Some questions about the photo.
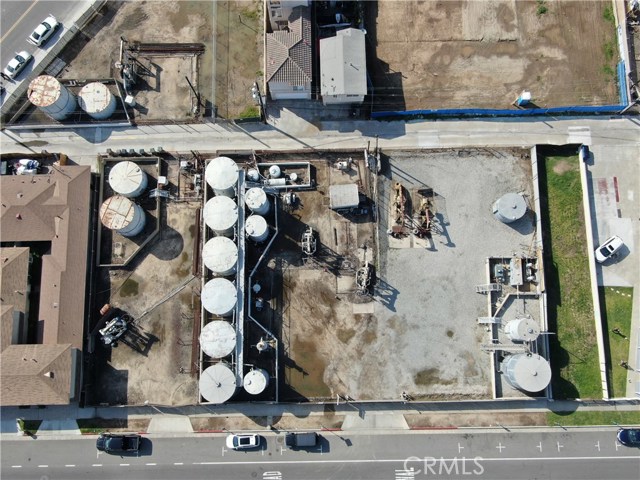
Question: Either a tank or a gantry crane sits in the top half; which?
tank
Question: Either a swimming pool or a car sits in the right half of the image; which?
car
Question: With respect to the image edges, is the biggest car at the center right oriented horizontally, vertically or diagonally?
diagonally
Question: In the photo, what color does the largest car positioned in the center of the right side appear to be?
white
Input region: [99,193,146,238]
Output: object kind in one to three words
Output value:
storage tank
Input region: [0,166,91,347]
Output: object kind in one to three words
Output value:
building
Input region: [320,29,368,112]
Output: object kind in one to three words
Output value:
house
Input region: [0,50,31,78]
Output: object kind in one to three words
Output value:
car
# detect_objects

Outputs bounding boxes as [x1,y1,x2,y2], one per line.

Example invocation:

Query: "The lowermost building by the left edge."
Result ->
[0,344,80,406]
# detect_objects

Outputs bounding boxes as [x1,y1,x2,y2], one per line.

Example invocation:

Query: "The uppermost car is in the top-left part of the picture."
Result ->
[26,16,57,42]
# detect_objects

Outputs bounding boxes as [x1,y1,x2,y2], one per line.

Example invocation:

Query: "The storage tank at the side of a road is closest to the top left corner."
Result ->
[24,73,78,121]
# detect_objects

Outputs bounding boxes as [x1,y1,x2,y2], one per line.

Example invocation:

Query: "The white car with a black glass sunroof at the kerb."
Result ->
[226,433,259,451]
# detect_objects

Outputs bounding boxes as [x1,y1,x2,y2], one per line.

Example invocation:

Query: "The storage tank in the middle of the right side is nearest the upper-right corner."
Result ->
[491,190,527,224]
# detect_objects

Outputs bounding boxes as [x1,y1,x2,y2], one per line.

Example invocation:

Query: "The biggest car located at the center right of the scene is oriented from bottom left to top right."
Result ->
[597,234,629,261]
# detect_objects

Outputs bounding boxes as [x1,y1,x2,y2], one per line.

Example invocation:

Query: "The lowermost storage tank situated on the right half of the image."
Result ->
[502,354,552,396]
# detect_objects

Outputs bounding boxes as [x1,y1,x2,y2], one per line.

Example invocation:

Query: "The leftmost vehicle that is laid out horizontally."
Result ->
[96,433,141,452]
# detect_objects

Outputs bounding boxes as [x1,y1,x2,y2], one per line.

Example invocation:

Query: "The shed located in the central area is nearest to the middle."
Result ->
[330,184,366,216]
